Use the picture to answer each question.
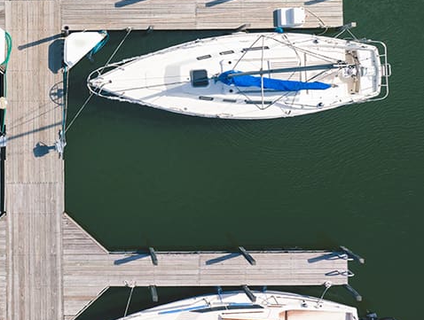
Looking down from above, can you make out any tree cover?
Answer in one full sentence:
No, tree cover can't be seen anywhere here.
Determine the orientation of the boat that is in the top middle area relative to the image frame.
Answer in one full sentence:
The boat that is in the top middle area has been laid out from side to side relative to the frame.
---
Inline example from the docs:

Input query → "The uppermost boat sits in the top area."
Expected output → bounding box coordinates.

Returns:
[87,34,391,120]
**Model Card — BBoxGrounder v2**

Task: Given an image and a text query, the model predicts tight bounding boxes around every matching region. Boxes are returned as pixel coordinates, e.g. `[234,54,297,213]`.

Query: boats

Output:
[87,34,391,120]
[121,294,392,320]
